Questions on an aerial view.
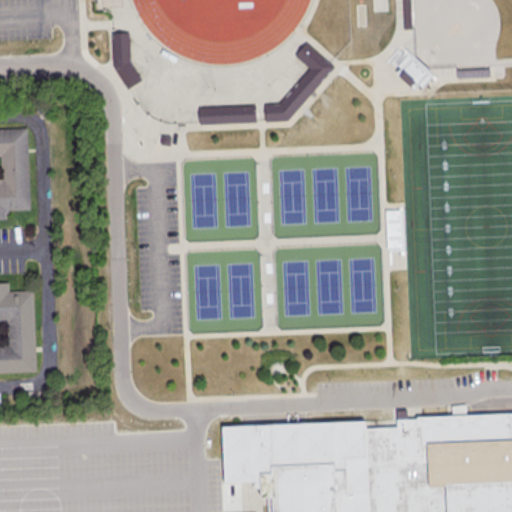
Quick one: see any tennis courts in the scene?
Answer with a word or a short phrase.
Yes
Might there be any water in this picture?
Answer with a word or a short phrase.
No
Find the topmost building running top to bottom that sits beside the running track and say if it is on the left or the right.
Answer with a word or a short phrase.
left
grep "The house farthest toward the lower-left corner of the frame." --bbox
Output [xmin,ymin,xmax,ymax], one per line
[0,284,37,374]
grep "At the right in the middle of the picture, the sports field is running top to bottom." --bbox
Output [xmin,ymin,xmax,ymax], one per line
[402,96,512,358]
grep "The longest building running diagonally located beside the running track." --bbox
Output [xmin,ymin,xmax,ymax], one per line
[264,42,334,121]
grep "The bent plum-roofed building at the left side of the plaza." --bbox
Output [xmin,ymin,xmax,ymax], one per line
[113,32,141,87]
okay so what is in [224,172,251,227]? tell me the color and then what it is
blue tennis court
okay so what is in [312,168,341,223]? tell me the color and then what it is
blue tennis court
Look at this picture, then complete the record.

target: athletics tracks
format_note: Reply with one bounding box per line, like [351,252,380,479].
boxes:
[132,0,311,65]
